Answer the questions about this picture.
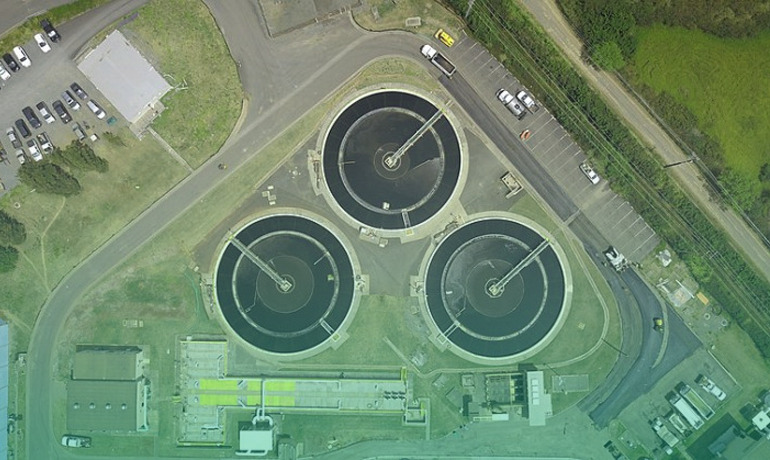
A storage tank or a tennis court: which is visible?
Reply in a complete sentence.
The one in the frame is a storage tank.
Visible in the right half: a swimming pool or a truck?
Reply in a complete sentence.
What appears in the right half is a truck.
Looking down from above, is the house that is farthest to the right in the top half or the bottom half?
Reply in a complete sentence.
You can find the house that is farthest to the right in the bottom half.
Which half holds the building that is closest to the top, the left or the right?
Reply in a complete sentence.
The building that is closest to the top appears in the left half of the scene.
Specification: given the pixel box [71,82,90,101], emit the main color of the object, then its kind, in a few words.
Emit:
gray car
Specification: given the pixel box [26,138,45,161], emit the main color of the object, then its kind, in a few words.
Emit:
white vehicle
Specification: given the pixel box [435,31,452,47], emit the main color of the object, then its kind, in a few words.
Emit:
yellow work vehicle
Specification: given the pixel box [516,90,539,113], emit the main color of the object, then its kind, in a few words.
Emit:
white truck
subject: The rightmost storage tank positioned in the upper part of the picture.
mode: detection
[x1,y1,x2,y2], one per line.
[314,83,469,247]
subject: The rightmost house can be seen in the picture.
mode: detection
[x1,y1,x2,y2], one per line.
[730,391,770,437]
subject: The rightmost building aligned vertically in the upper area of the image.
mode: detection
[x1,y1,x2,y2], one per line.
[308,150,326,196]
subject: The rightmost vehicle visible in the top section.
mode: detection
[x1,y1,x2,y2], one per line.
[578,161,599,183]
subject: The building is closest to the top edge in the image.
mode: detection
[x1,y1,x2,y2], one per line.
[78,30,171,123]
